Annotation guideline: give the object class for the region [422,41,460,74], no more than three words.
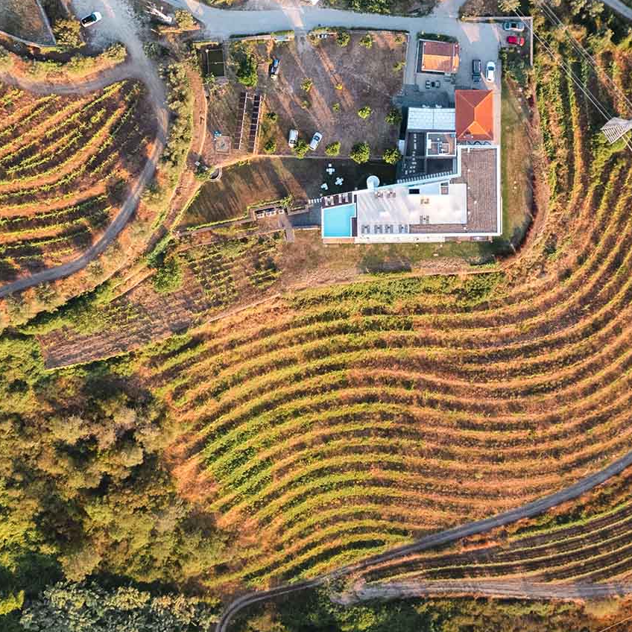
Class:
house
